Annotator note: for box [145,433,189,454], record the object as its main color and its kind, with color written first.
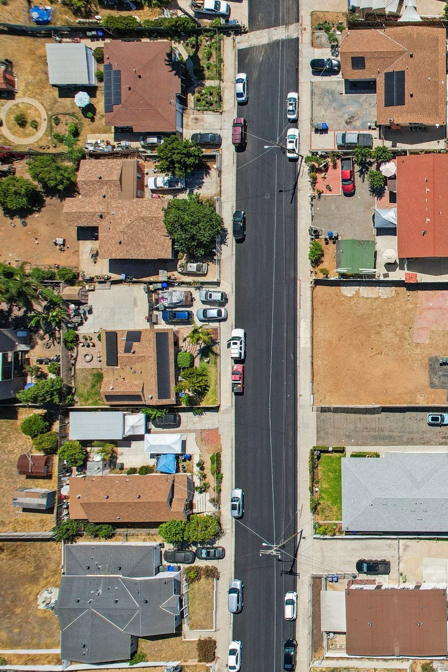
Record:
white tent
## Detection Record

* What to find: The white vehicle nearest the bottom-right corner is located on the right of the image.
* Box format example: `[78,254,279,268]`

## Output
[283,590,299,622]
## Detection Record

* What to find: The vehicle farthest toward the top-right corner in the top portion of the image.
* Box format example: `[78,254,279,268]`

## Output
[310,57,339,72]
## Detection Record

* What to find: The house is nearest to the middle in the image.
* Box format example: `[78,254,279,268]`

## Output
[99,329,183,405]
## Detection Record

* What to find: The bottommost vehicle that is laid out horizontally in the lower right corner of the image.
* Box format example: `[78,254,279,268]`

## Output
[355,560,390,576]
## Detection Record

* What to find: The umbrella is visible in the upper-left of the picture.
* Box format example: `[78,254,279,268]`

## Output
[75,92,94,108]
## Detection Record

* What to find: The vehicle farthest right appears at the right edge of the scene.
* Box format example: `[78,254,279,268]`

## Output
[426,413,448,427]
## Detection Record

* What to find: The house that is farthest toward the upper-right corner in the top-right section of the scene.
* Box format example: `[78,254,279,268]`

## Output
[338,25,446,125]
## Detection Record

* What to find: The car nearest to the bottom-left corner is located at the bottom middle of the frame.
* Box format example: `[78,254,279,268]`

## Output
[164,550,196,565]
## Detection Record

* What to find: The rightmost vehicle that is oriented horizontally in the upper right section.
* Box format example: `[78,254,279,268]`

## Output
[336,131,374,146]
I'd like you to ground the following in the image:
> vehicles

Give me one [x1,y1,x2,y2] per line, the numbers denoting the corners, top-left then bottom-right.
[228,639,243,672]
[340,157,355,194]
[426,413,448,427]
[283,637,298,671]
[231,116,249,147]
[355,560,390,576]
[162,310,195,324]
[228,578,244,614]
[190,0,231,15]
[310,57,339,72]
[164,550,196,565]
[231,209,247,239]
[177,262,209,275]
[223,327,246,360]
[198,289,228,304]
[147,175,186,190]
[283,590,299,622]
[197,308,229,322]
[286,92,300,121]
[190,131,222,146]
[230,361,246,393]
[149,413,182,428]
[336,131,374,146]
[230,488,246,518]
[195,547,227,561]
[286,129,300,159]
[234,73,250,104]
